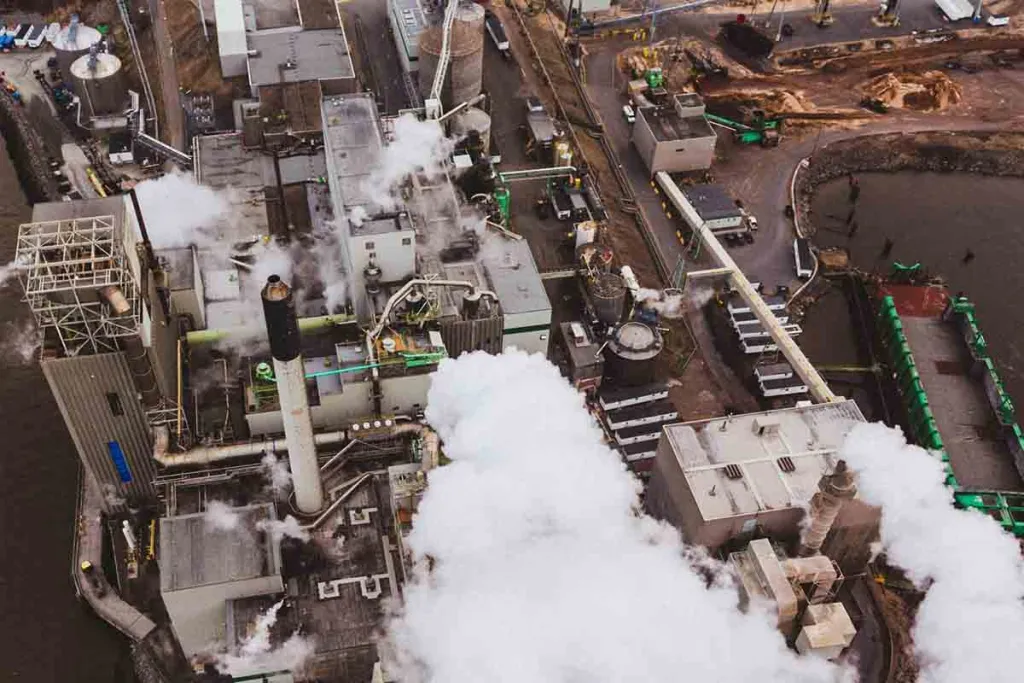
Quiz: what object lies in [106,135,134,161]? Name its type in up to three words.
shed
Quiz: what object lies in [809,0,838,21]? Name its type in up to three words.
crane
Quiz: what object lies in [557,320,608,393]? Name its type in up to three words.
house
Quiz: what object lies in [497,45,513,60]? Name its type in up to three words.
vehicle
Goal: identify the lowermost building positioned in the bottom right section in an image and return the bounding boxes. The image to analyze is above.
[796,598,858,682]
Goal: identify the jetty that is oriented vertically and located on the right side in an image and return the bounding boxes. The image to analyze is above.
[839,270,893,429]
